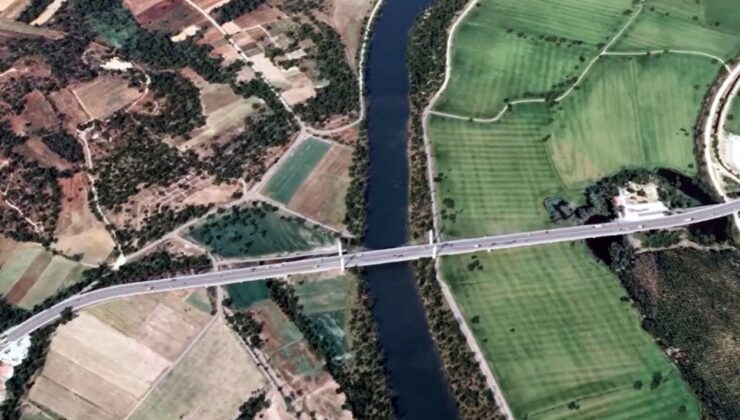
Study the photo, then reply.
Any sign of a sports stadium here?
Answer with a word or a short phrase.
No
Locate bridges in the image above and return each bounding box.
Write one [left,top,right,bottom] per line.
[0,196,740,353]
